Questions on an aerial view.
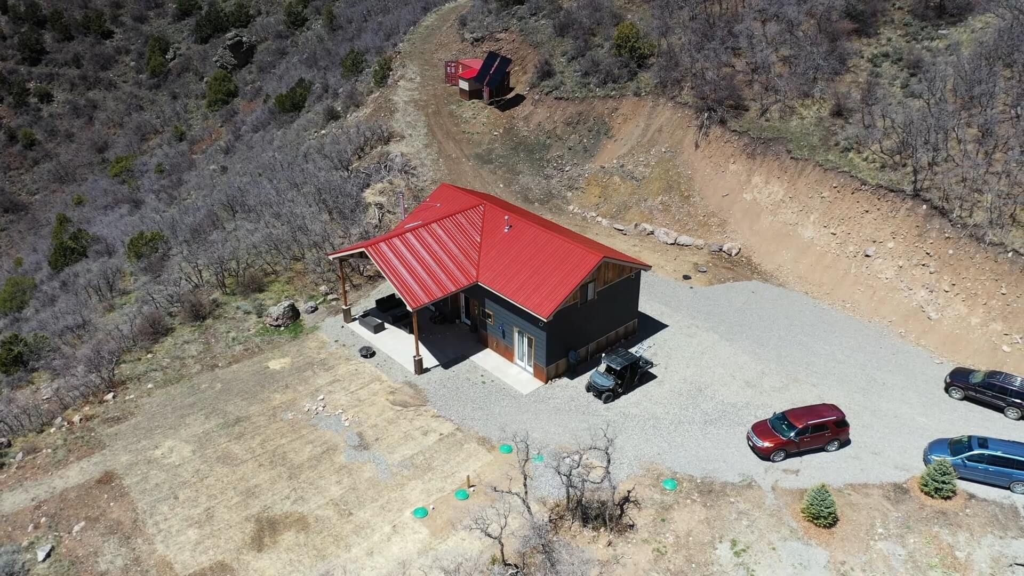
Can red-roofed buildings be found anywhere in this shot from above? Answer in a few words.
Yes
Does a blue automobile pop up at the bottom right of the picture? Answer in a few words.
Yes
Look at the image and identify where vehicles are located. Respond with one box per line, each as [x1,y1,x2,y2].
[923,433,1024,494]
[742,401,853,464]
[941,368,1024,422]
[588,344,652,400]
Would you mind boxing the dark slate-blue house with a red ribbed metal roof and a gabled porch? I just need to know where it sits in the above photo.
[327,183,652,385]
